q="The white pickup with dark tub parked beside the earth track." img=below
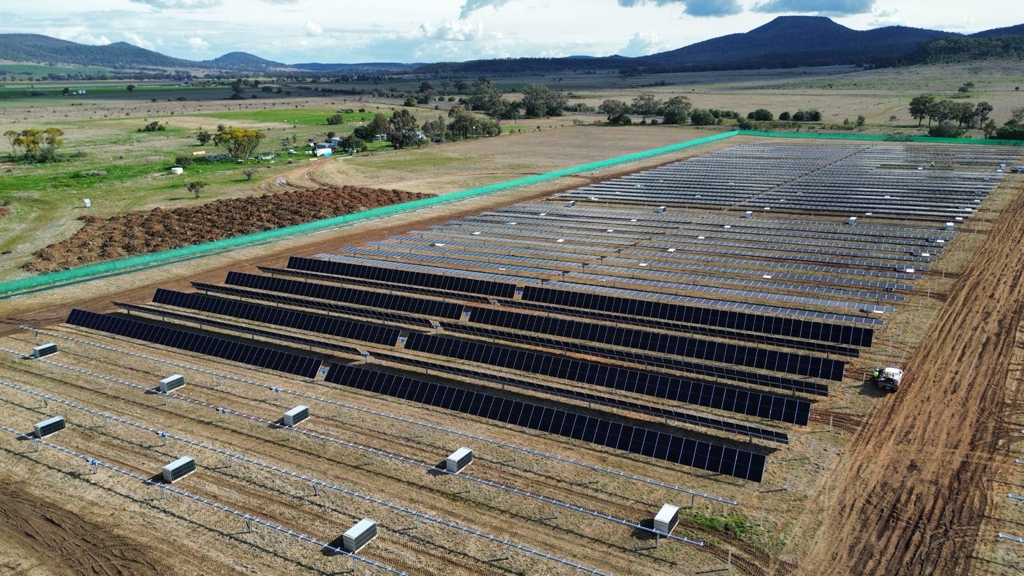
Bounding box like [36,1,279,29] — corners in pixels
[874,362,904,388]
